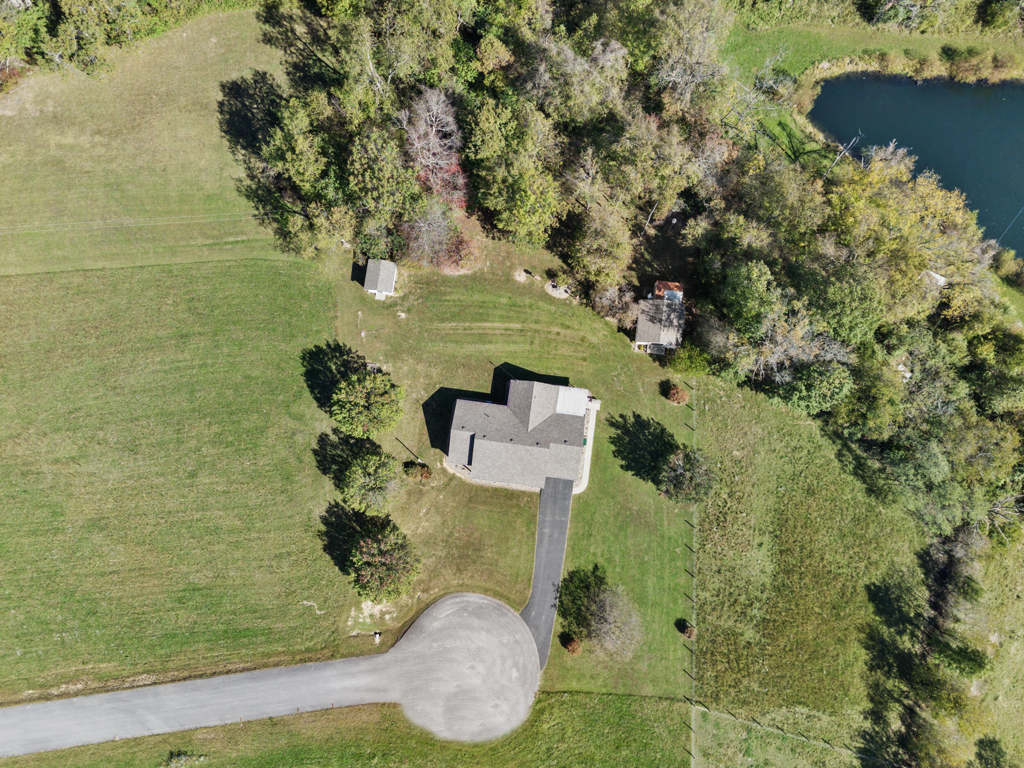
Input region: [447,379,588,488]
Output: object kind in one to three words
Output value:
house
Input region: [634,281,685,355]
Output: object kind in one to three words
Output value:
building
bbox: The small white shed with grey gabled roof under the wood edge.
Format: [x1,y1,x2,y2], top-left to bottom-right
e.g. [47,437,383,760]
[364,259,398,301]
